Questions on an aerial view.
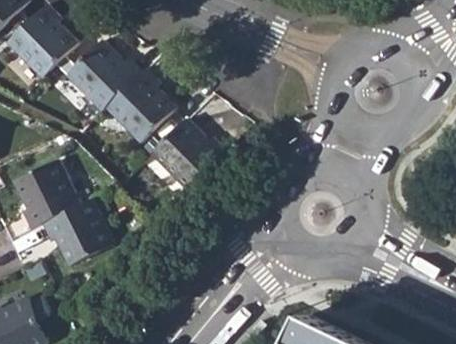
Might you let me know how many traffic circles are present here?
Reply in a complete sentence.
The picture shows 2 traffic circles.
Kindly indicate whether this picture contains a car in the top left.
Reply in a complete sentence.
No, no car can be made out in the top left.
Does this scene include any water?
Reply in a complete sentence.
No, the scene doesn't show any water.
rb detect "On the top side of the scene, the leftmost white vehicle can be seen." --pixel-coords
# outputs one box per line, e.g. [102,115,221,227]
[314,120,330,142]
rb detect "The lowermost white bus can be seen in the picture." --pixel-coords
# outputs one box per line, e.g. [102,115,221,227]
[208,304,258,344]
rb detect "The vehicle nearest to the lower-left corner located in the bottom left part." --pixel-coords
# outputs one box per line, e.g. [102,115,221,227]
[0,252,17,268]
